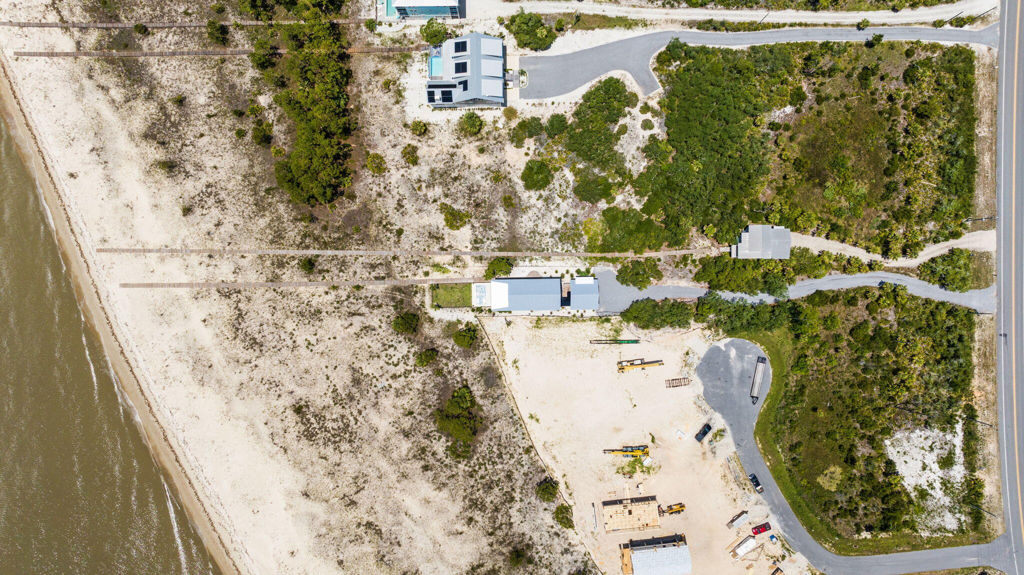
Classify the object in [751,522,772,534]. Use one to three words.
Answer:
vehicle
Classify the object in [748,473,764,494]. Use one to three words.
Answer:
vehicle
